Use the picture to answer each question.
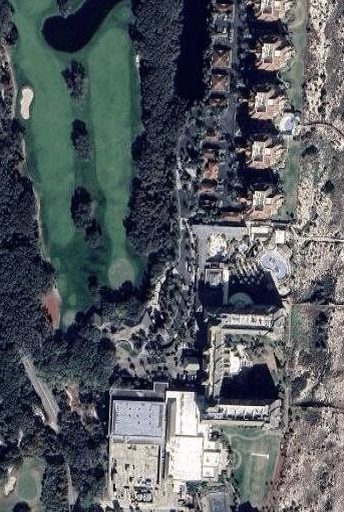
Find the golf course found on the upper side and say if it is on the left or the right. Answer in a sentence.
You can find the golf course found on the upper side on the left side of the picture.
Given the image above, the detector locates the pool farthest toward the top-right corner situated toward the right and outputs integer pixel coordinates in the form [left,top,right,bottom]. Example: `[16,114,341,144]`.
[280,110,298,133]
